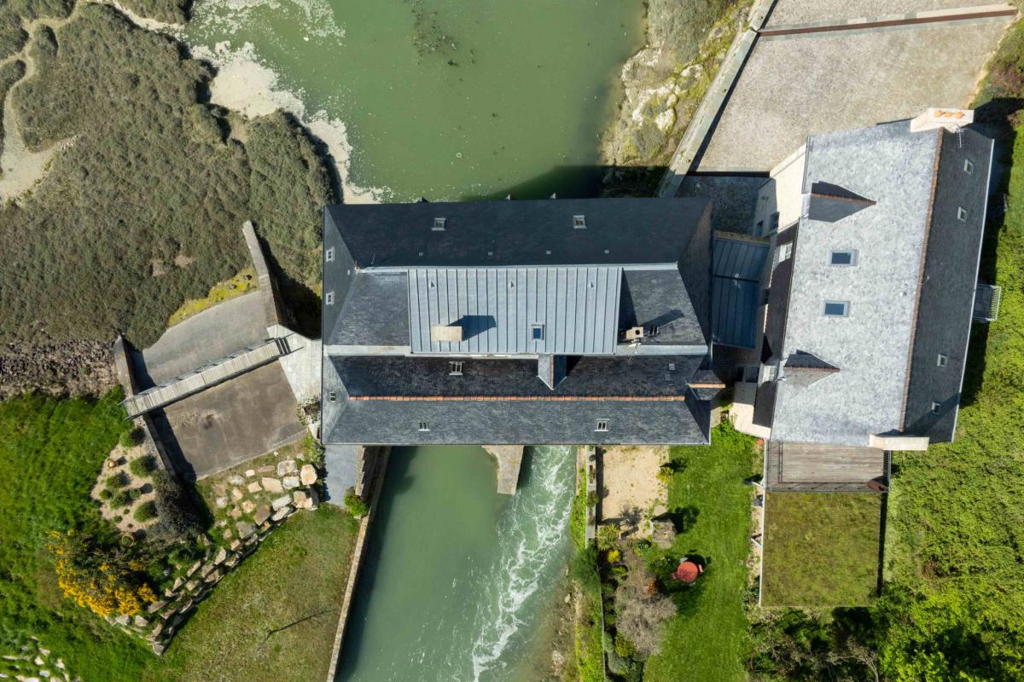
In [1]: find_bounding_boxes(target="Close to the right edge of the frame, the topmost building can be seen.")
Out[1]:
[717,107,1004,454]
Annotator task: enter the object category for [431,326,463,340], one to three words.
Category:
chimney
